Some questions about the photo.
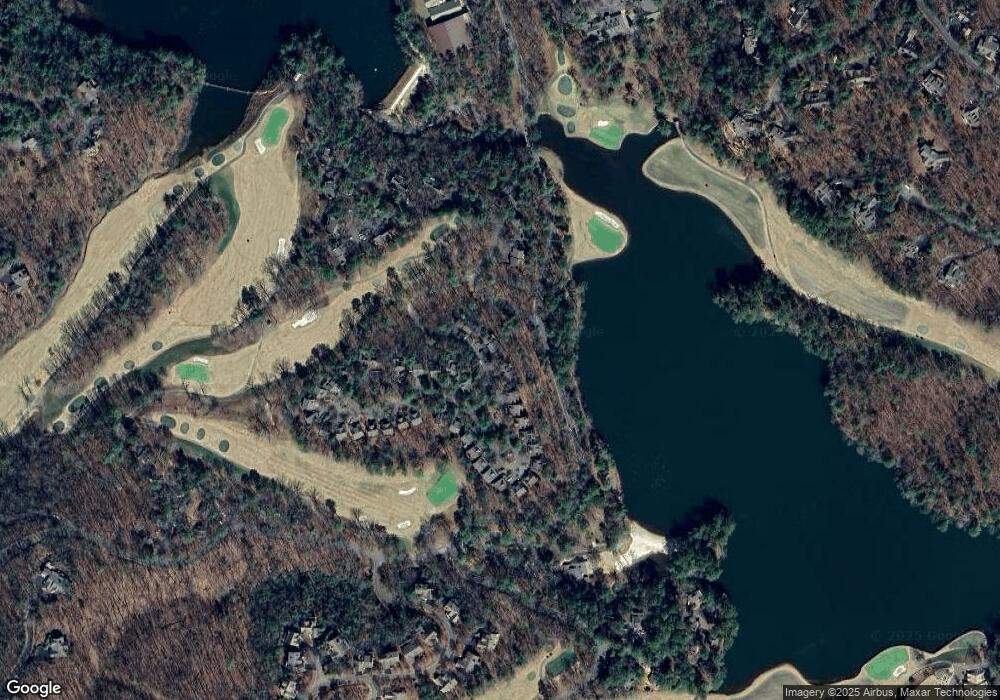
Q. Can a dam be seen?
Yes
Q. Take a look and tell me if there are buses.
No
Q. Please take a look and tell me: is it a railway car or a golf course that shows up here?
golf course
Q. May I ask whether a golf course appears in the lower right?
Yes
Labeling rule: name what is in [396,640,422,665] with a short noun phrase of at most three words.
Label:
house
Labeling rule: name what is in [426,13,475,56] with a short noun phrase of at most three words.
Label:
building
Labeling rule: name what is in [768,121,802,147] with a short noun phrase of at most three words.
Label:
house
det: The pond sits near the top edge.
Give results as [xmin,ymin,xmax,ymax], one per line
[89,0,411,160]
